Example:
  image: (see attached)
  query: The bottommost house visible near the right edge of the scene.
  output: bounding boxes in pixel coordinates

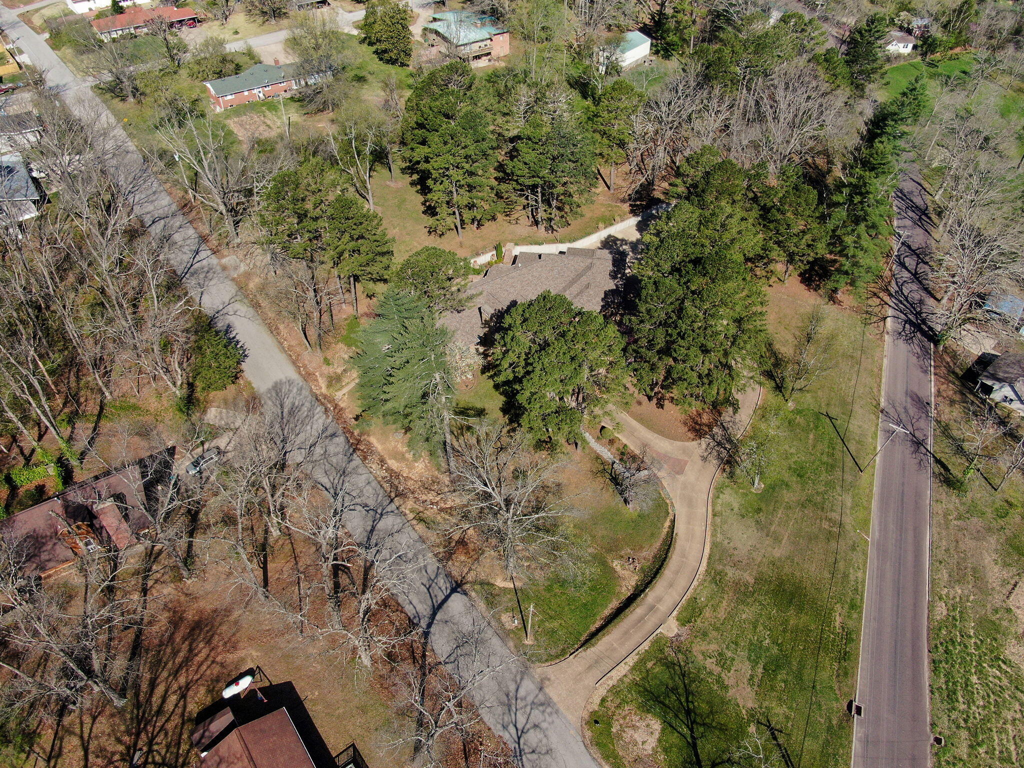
[968,353,1024,422]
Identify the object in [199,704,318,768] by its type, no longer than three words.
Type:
house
